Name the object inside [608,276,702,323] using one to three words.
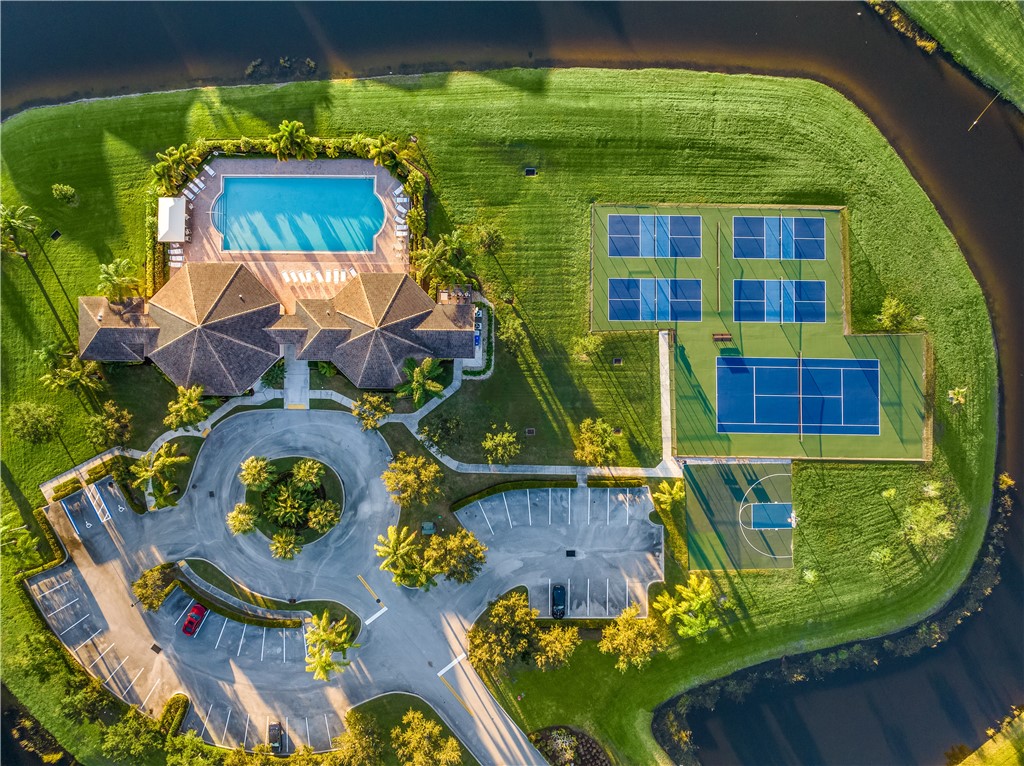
sports court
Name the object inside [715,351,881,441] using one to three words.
tennis court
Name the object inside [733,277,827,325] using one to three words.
sports court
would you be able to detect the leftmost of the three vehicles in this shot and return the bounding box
[180,605,207,637]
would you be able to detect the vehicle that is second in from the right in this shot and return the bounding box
[265,722,282,755]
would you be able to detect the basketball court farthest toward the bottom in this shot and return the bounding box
[684,464,793,570]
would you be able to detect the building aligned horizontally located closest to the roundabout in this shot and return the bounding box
[78,262,475,395]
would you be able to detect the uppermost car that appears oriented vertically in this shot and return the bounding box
[550,585,566,619]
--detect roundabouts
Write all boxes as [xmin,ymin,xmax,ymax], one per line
[198,415,384,601]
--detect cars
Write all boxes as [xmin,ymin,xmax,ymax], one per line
[265,722,282,755]
[550,585,566,619]
[180,605,207,637]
